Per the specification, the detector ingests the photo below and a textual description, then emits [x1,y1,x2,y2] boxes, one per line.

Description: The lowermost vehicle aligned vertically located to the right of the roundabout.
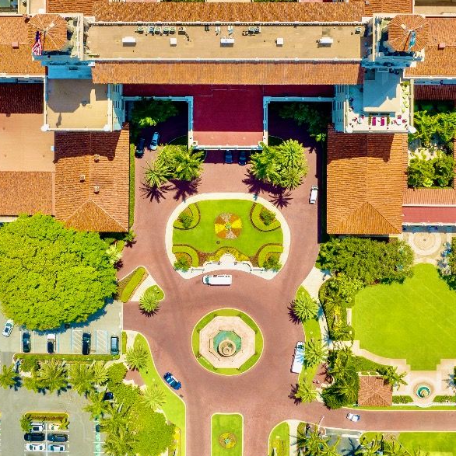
[291,339,306,373]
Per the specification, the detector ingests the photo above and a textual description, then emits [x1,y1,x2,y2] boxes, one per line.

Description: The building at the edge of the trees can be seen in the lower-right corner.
[358,373,393,407]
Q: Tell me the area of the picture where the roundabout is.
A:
bottom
